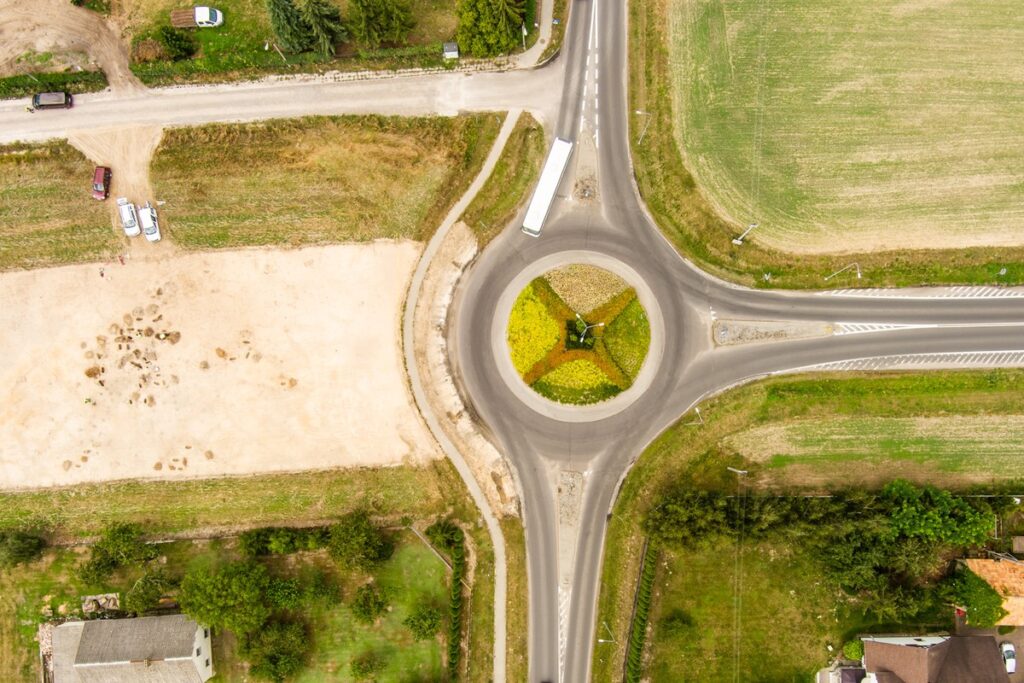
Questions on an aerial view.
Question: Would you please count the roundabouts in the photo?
1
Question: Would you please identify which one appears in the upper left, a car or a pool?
car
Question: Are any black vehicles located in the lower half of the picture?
No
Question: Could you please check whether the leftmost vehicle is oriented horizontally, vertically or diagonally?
horizontally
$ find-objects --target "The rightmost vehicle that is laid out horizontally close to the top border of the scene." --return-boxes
[169,4,223,27]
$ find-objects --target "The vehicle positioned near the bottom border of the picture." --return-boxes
[997,639,1022,676]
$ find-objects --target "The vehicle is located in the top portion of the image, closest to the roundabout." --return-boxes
[516,136,574,239]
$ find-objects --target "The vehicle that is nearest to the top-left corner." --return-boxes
[31,89,73,110]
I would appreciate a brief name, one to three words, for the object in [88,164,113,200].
car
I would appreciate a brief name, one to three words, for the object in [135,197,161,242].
car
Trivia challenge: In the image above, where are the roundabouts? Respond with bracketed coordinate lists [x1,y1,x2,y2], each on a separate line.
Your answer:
[456,215,704,461]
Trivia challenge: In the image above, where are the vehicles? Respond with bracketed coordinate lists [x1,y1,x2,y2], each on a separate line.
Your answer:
[516,136,574,239]
[31,89,73,110]
[997,639,1022,676]
[135,197,161,242]
[88,164,113,200]
[115,193,141,238]
[169,4,223,27]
